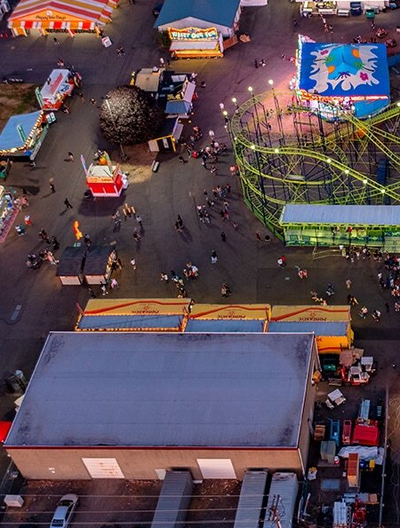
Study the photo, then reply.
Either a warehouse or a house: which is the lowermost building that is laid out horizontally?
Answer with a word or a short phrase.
warehouse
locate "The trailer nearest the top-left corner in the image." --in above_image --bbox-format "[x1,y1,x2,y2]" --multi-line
[28,64,79,105]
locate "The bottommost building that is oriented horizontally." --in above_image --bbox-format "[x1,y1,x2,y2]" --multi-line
[2,331,320,475]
